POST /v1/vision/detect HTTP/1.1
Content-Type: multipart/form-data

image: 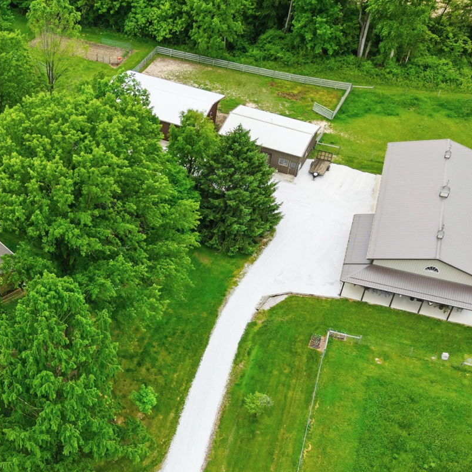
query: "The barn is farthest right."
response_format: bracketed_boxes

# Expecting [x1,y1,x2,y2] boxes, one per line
[339,138,472,326]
